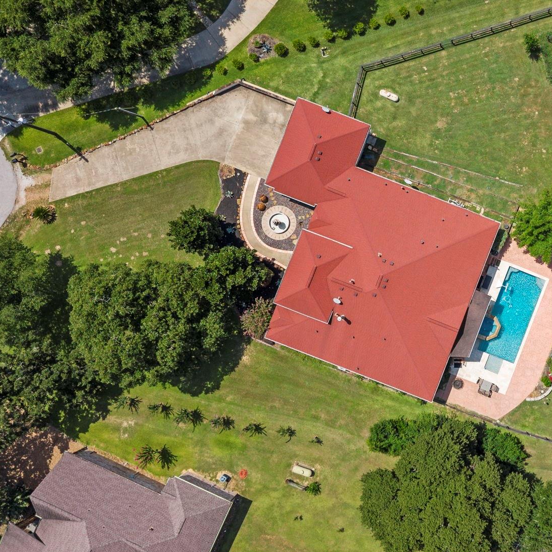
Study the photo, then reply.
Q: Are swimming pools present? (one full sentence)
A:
Yes, this view includes a swimming pool.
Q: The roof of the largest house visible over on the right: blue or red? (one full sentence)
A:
The color of the roof of the largest house visible over on the right is red.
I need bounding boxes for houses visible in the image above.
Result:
[0,450,236,552]
[264,97,501,403]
